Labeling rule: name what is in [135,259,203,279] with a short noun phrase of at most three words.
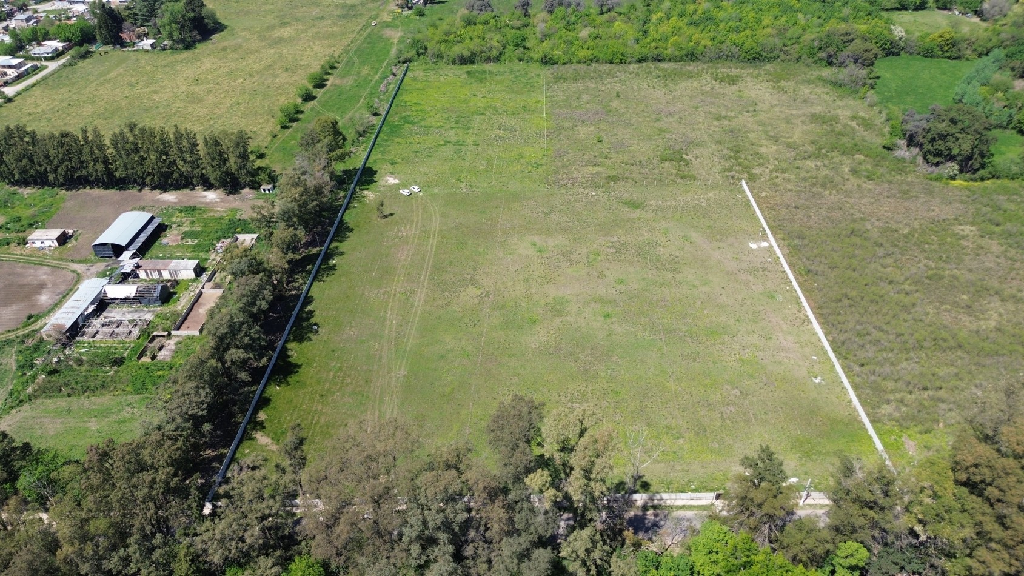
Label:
shed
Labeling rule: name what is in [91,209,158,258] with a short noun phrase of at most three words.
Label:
hangar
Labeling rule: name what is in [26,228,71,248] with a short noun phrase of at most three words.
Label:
house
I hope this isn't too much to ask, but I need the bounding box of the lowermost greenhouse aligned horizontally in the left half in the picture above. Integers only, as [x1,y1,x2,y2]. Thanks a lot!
[104,285,167,306]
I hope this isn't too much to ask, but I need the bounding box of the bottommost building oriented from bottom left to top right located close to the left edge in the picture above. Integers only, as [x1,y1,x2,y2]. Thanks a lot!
[42,279,112,341]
